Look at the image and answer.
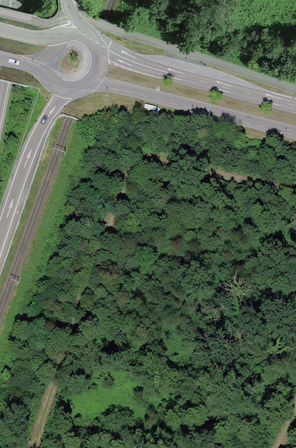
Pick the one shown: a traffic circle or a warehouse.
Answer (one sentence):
Looking from above, you can make out a traffic circle.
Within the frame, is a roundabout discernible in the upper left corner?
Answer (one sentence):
Yes, you'll find a roundabout in the upper left corner.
